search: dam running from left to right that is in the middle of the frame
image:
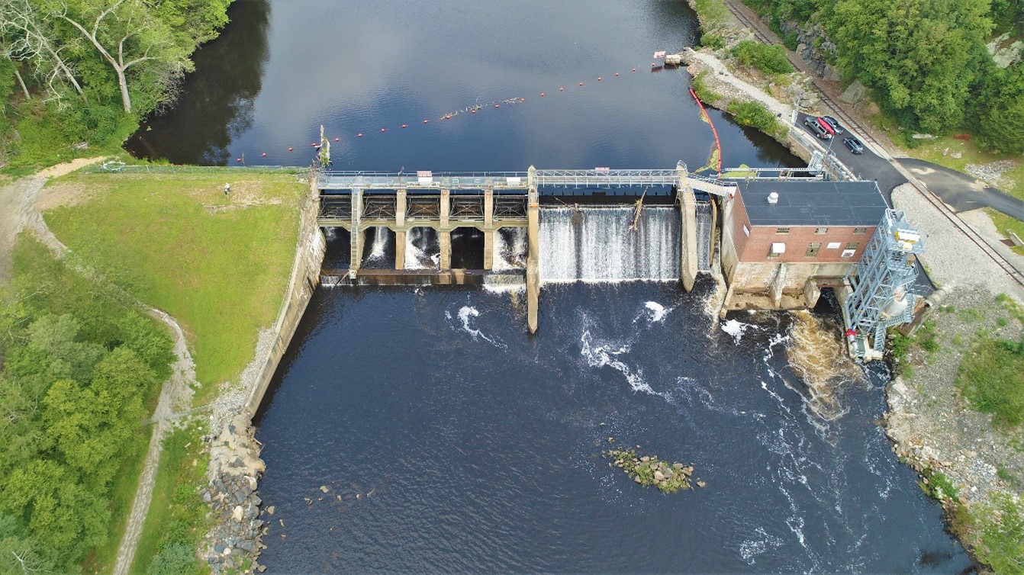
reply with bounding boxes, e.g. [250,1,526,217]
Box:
[313,164,722,331]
